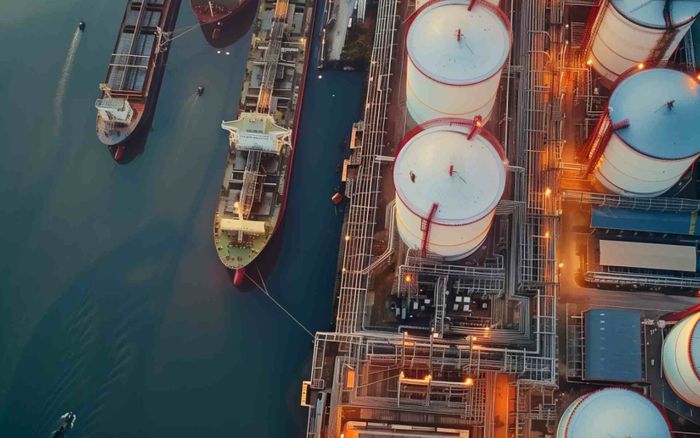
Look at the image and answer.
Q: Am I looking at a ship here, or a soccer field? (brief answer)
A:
ship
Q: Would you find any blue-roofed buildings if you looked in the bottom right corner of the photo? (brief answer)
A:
Yes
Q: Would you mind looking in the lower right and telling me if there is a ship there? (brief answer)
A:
No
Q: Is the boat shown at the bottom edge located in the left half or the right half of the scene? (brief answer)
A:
left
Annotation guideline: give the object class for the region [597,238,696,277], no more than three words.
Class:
building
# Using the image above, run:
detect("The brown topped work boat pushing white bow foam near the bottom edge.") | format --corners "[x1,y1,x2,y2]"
[53,411,73,433]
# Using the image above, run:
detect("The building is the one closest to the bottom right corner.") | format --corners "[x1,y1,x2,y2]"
[580,311,643,385]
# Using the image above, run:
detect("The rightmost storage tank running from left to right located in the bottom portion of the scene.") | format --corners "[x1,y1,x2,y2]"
[550,385,675,438]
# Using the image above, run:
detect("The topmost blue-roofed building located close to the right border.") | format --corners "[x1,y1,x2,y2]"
[588,206,700,245]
